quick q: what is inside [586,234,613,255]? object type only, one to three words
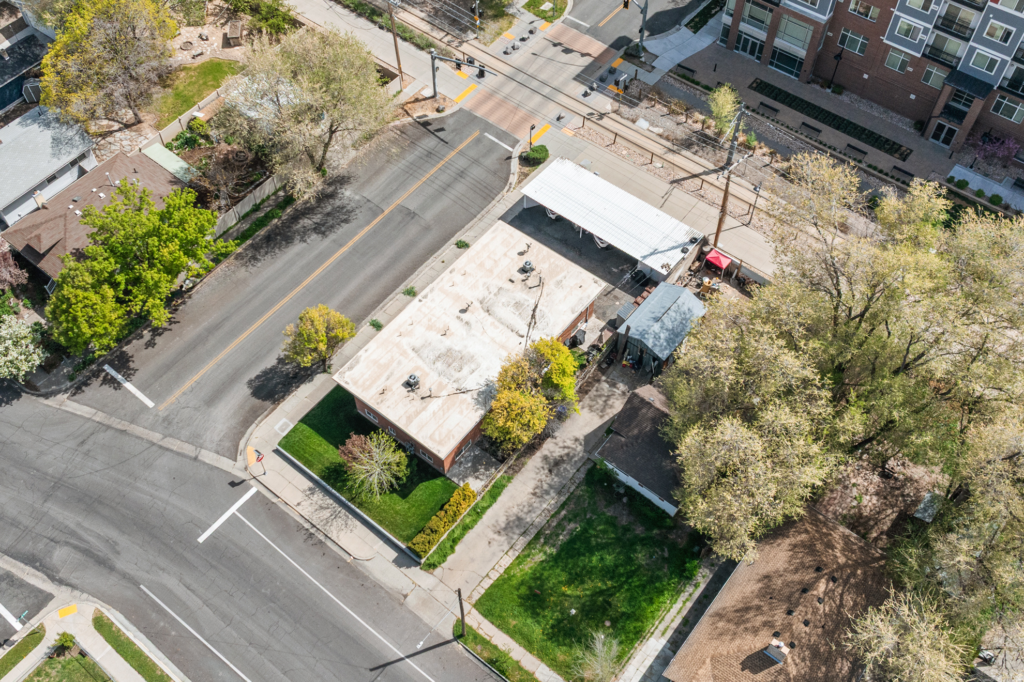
car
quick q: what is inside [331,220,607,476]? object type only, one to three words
building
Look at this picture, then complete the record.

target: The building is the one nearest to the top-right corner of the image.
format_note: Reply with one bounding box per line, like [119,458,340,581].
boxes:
[716,0,1024,166]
